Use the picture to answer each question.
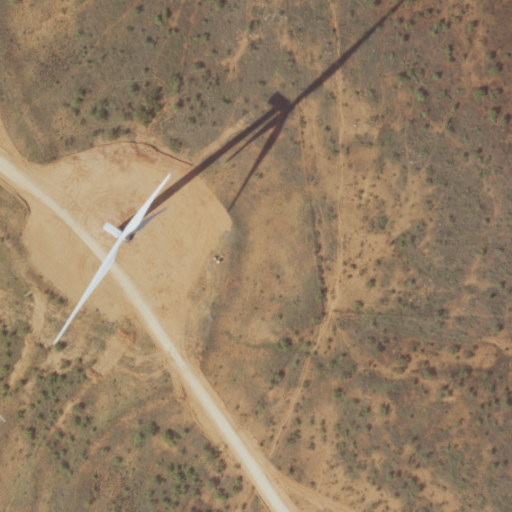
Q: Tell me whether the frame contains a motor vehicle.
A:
No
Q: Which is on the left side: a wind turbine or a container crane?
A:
wind turbine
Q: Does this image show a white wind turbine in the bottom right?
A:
No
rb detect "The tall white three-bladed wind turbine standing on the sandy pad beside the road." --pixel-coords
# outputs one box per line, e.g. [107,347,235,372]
[54,174,169,344]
